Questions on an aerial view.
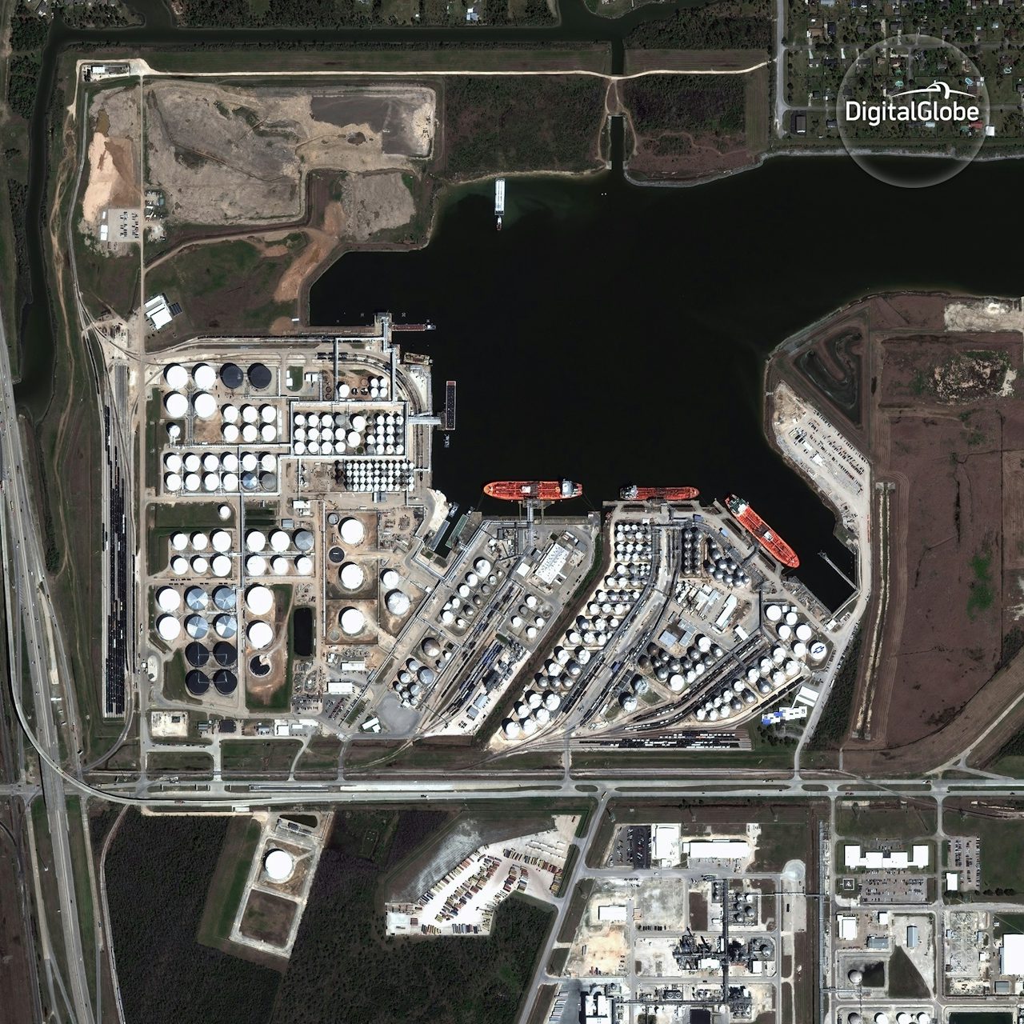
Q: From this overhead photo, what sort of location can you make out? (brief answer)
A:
port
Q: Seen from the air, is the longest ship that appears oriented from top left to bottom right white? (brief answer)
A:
No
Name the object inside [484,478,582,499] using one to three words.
ship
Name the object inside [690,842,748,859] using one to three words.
building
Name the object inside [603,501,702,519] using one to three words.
pier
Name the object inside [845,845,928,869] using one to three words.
building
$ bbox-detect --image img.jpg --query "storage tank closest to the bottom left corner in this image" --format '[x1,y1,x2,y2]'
[265,851,294,881]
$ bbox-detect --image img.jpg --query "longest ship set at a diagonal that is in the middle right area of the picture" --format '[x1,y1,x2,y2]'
[724,494,798,566]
